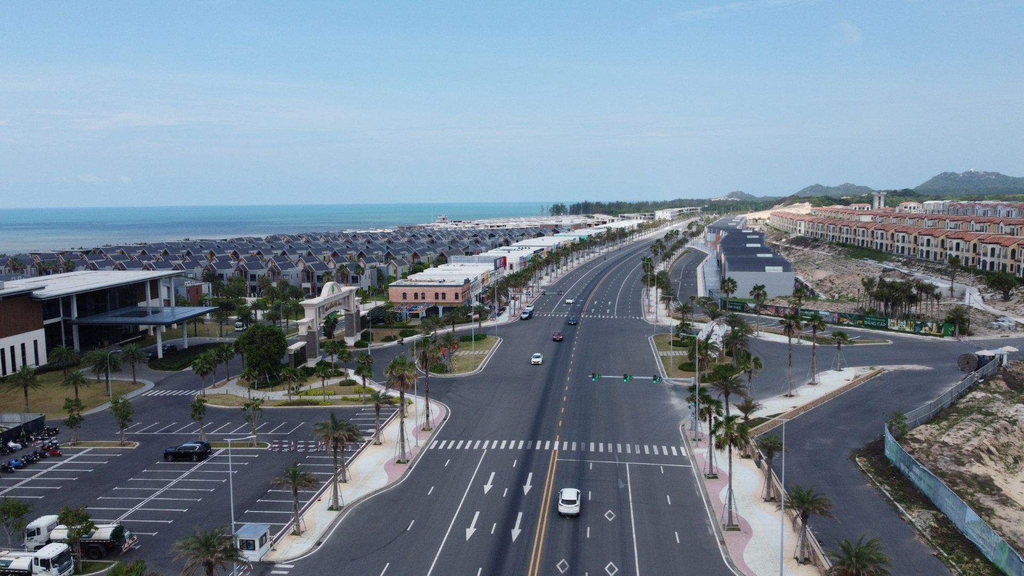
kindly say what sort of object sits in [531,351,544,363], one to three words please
vehicle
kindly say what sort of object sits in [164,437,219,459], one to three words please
car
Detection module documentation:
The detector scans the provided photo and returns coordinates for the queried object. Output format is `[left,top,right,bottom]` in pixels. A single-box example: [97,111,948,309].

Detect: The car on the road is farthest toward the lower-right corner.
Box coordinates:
[558,485,583,512]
